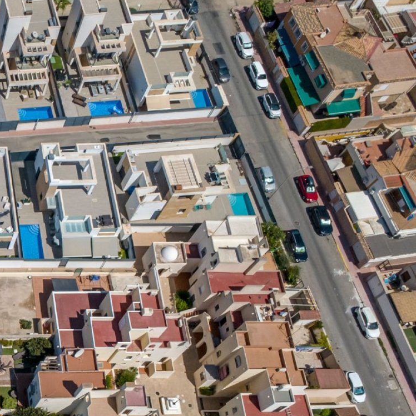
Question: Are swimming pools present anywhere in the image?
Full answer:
Yes, a swimming pool is visible in the scene.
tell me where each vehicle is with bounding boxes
[179,0,199,16]
[261,93,282,119]
[234,31,252,59]
[247,63,268,90]
[255,166,276,194]
[344,371,368,405]
[352,305,381,341]
[295,174,318,203]
[285,230,308,264]
[212,58,230,84]
[308,204,333,238]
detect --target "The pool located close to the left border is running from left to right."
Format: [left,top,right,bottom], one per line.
[19,105,53,120]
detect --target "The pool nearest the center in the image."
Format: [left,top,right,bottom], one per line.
[228,192,255,215]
